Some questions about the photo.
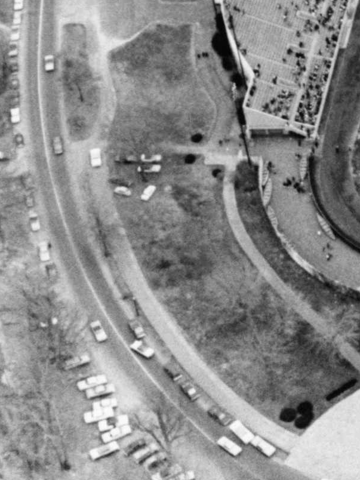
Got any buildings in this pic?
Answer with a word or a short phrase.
No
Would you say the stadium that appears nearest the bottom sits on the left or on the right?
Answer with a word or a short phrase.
right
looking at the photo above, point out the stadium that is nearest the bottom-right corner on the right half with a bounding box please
[154,146,360,366]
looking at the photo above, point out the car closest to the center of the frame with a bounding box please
[140,185,156,202]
